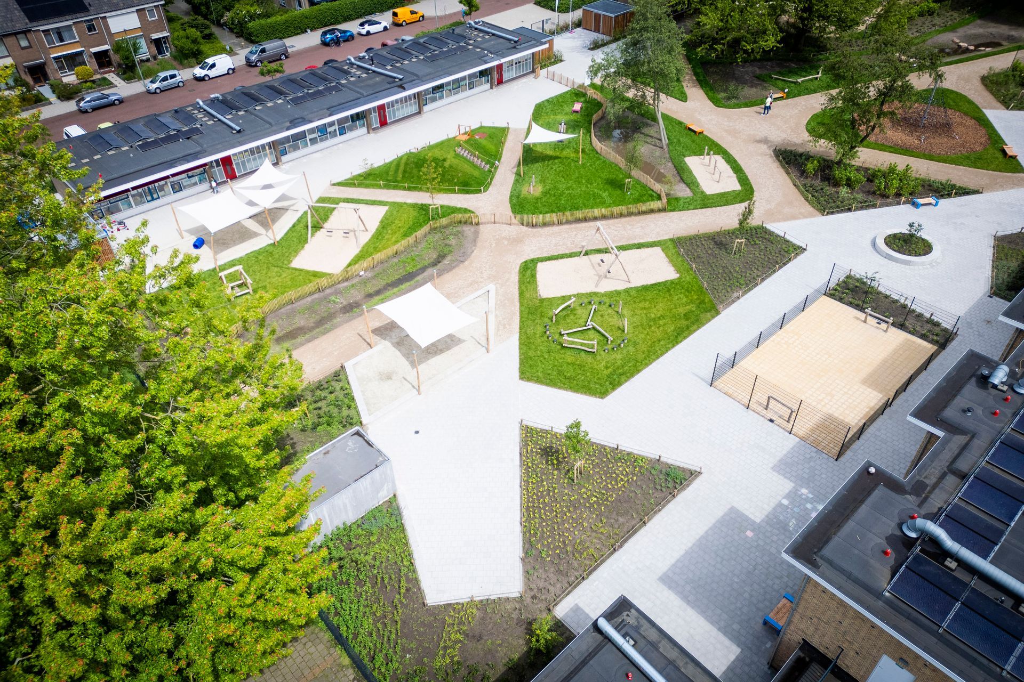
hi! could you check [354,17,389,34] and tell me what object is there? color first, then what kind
white car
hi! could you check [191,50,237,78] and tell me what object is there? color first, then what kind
white van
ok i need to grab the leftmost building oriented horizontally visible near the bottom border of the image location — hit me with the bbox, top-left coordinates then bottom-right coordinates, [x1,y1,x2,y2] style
[532,595,725,682]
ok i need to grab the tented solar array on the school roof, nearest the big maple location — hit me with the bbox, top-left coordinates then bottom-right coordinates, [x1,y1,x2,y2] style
[85,109,199,154]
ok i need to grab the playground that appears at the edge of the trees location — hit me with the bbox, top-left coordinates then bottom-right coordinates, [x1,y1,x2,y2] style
[517,188,1024,682]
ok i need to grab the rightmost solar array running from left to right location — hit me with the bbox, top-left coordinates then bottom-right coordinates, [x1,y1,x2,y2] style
[367,31,466,66]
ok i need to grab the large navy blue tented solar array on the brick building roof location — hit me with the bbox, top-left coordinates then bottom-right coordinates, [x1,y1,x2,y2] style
[882,403,1024,682]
